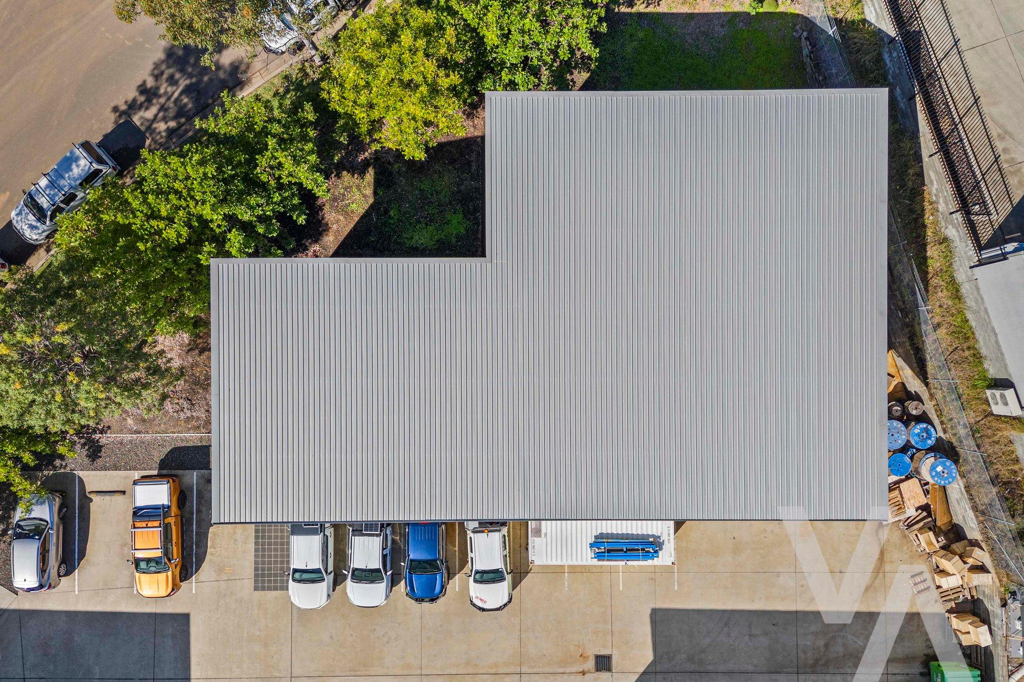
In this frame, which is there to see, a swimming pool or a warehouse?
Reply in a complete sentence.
The image shows a warehouse.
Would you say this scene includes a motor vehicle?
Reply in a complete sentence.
Yes, I can see a motor vehicle in this picture.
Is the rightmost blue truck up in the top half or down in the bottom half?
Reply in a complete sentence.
The rightmost blue truck is in the bottom half of the image.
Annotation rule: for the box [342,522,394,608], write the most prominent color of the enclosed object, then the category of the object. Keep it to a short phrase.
white truck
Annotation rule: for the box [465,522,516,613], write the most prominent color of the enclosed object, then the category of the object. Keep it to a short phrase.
white truck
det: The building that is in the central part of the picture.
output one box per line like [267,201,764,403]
[211,88,888,524]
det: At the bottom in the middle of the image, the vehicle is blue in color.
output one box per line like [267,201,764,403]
[400,522,451,609]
